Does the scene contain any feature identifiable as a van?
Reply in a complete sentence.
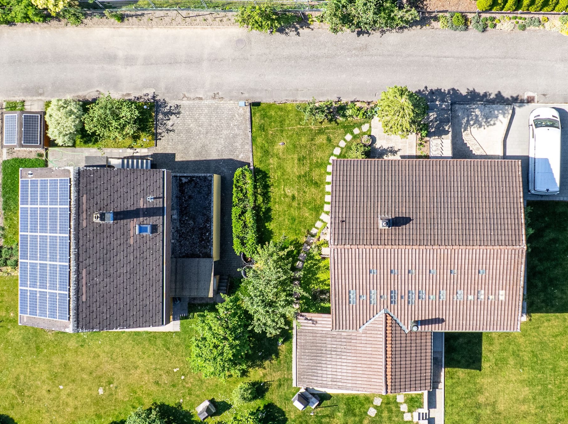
Yes, there's a van here.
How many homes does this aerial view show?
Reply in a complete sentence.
The count of homes comes to 2.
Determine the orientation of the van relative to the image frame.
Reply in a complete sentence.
The van is oriented vertically.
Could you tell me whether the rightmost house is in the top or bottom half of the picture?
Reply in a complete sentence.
You can find the rightmost house in the bottom half.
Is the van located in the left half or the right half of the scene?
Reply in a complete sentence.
You can find the van on the right side of the picture.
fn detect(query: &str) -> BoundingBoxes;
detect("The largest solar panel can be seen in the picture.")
[24,114,41,143]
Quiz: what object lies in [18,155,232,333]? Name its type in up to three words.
house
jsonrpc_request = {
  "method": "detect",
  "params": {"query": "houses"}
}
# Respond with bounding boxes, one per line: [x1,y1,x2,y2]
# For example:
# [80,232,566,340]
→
[18,155,232,333]
[292,158,527,396]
